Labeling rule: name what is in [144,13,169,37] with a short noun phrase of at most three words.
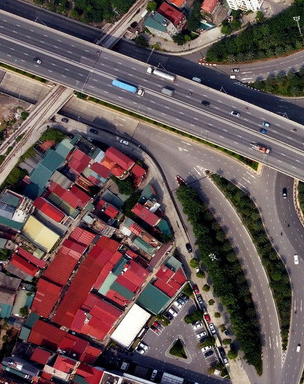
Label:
house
